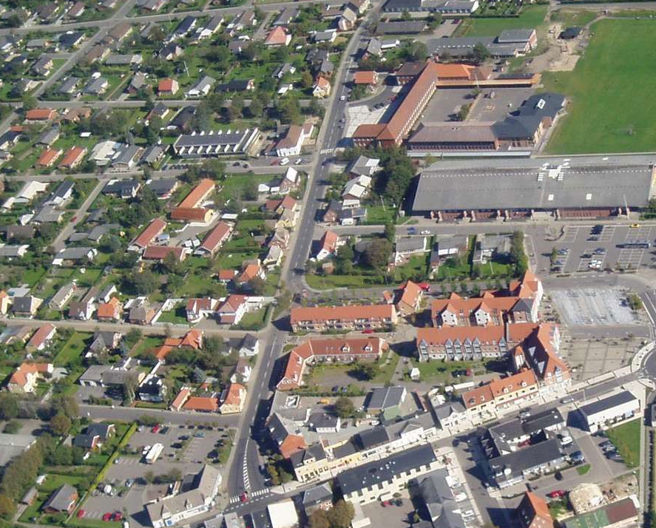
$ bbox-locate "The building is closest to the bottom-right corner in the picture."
[605,497,639,528]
